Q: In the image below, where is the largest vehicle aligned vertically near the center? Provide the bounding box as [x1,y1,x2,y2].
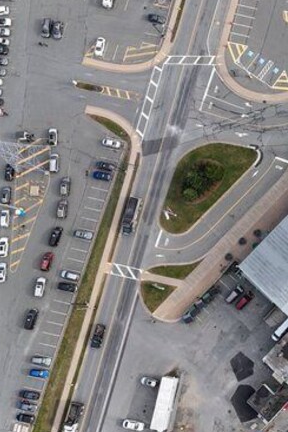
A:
[121,196,142,233]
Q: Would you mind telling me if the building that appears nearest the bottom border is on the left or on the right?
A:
right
